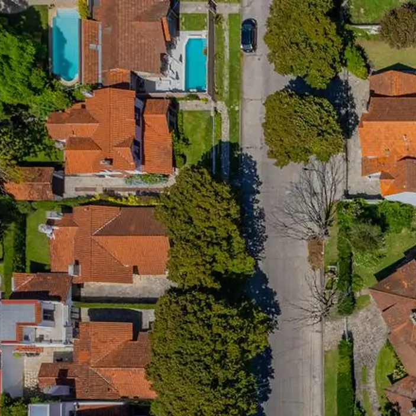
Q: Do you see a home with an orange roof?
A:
Yes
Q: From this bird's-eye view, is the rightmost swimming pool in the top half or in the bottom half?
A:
top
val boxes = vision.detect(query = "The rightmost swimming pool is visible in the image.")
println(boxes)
[183,37,206,89]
